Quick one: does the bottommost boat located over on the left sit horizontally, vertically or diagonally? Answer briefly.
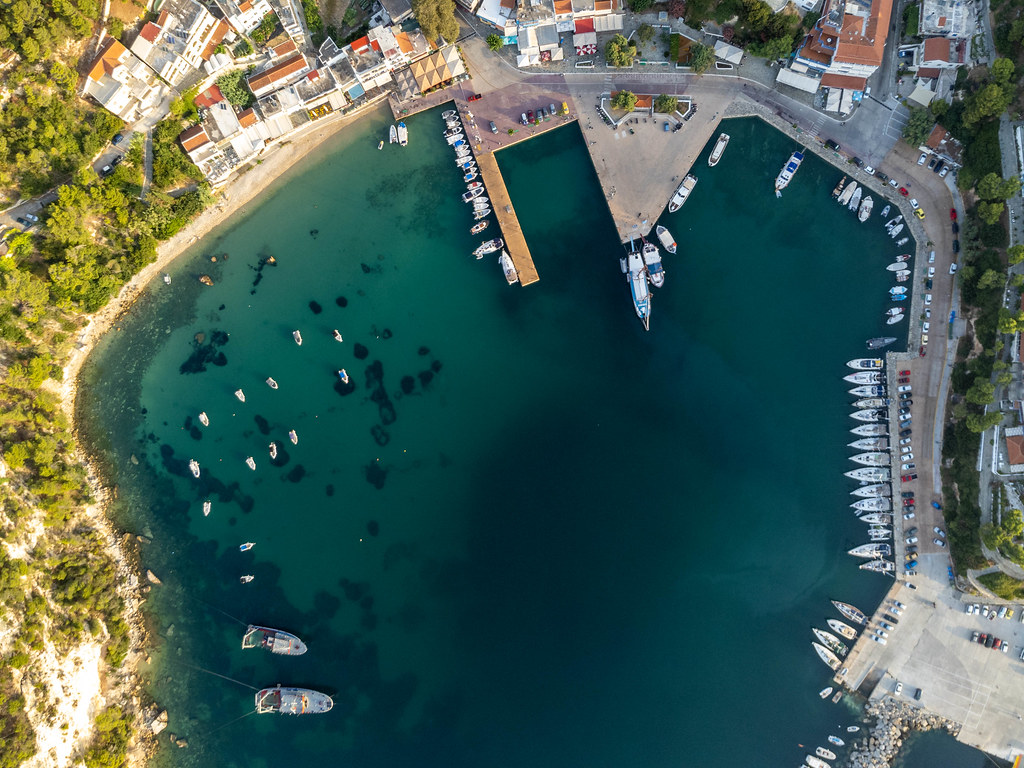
horizontally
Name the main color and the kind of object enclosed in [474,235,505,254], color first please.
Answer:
white boat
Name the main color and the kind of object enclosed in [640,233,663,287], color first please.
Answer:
white boat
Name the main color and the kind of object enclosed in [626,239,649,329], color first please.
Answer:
white ship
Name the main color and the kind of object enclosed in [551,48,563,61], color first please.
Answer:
white umbrella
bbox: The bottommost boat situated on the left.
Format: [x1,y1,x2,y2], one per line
[256,686,333,716]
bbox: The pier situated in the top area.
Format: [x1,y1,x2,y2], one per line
[476,151,539,286]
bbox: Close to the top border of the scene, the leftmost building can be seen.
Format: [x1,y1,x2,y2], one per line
[82,32,178,126]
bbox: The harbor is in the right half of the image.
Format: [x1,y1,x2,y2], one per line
[388,43,1024,763]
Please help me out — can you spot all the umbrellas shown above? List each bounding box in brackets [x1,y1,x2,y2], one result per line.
[517,55,529,67]
[551,48,563,61]
[540,50,551,61]
[852,91,862,103]
[576,46,587,56]
[529,55,541,67]
[586,44,597,55]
